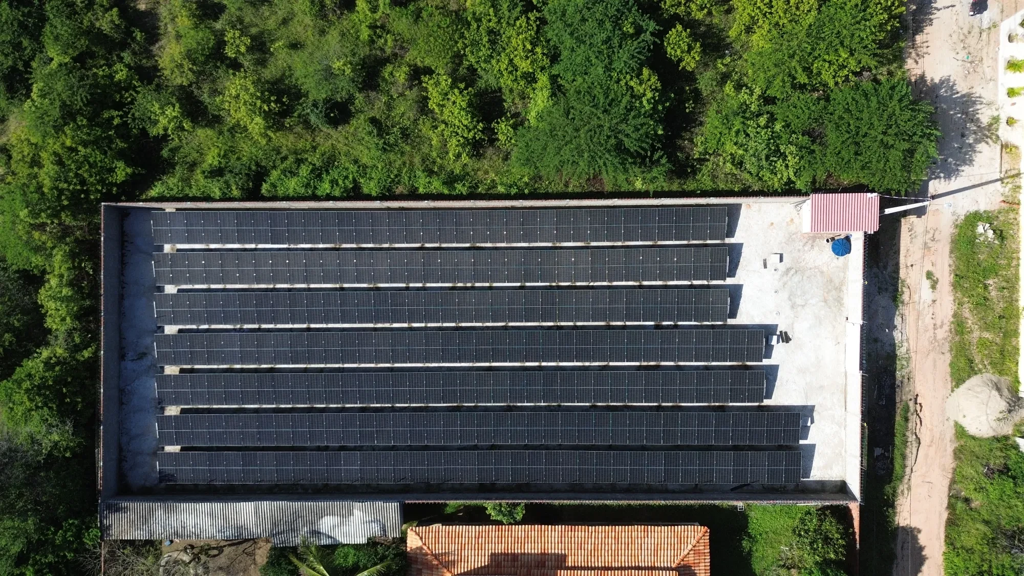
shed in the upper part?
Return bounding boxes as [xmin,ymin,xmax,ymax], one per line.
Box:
[802,193,879,236]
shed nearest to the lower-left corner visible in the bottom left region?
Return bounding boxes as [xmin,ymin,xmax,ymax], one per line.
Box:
[104,504,412,547]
